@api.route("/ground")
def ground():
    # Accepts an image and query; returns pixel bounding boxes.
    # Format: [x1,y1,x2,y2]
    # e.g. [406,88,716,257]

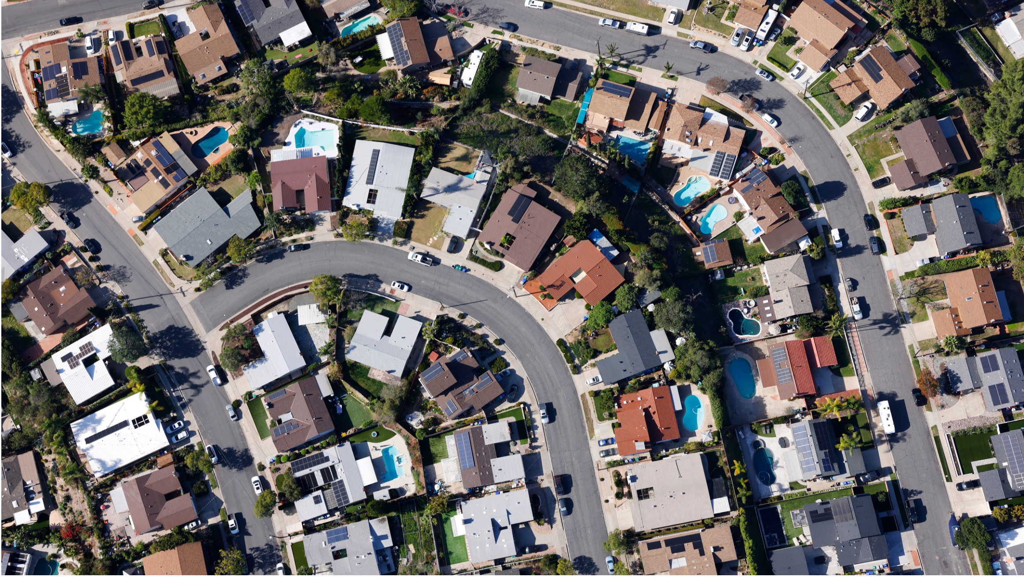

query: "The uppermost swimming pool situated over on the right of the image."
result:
[606,133,651,164]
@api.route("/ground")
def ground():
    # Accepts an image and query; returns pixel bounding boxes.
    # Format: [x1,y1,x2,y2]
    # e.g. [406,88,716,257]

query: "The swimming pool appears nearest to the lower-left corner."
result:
[31,557,61,577]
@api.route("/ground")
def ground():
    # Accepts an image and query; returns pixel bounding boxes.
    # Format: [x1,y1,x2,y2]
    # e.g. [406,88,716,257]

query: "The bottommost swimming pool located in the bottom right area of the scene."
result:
[758,505,787,548]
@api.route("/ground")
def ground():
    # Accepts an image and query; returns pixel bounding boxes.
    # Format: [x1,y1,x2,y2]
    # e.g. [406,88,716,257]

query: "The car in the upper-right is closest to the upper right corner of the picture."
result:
[854,102,872,121]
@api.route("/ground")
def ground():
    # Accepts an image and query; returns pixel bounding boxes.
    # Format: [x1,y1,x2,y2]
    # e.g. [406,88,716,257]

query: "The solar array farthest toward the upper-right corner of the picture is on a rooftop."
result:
[859,58,883,83]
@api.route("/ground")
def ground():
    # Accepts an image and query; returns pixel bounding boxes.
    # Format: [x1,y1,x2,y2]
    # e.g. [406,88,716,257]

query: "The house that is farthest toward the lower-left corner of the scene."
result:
[0,451,50,526]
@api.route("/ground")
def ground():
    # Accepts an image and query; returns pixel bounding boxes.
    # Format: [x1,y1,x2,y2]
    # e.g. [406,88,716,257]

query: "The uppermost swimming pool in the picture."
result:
[338,14,380,37]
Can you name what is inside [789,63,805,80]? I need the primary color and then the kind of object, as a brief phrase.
white car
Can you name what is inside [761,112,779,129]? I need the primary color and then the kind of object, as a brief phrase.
white car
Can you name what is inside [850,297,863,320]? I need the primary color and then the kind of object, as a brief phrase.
white vehicle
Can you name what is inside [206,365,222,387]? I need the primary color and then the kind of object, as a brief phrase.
white vehicle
